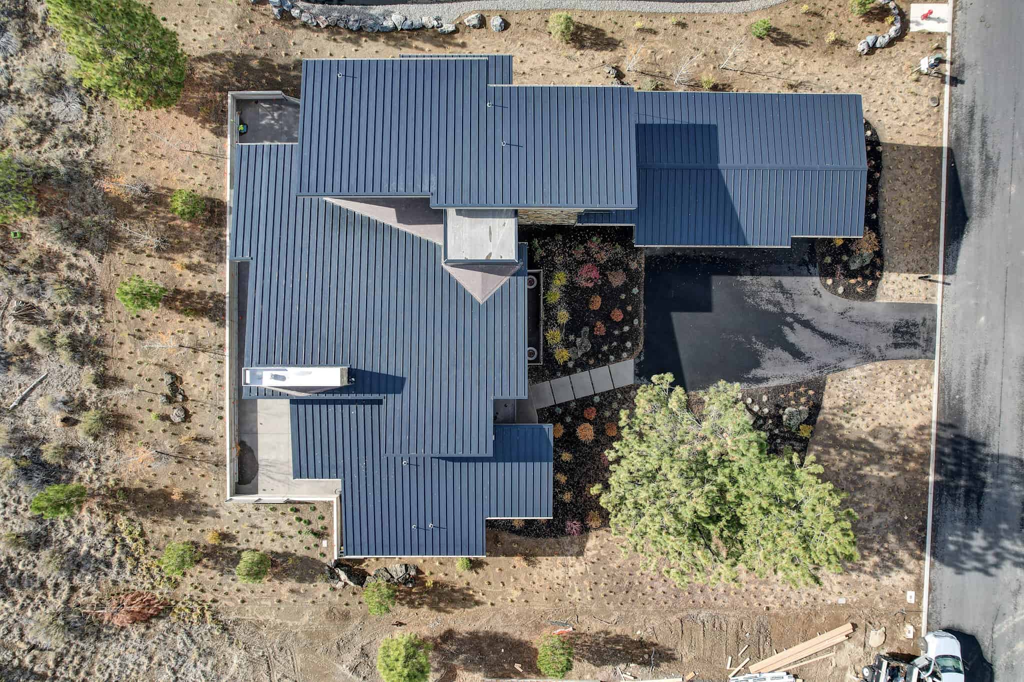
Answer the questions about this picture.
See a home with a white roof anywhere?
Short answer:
No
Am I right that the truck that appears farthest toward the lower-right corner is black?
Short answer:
No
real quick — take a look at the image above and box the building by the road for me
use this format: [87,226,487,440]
[229,53,867,558]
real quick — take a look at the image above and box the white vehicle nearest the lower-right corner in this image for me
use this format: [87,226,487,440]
[907,625,968,682]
